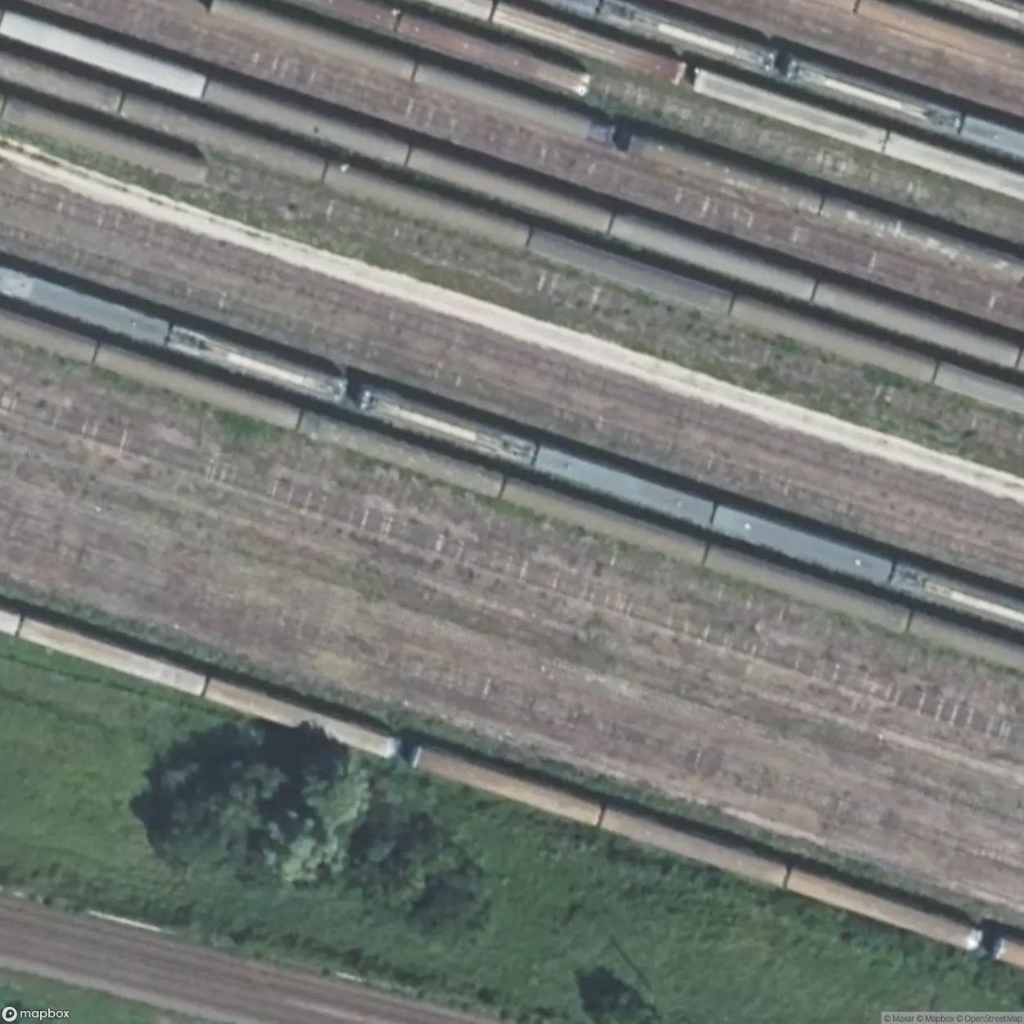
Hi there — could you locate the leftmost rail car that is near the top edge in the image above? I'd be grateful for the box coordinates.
[529,0,600,20]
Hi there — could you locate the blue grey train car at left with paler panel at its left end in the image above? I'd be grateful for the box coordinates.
[0,267,170,348]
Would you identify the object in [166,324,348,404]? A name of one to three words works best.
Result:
rail car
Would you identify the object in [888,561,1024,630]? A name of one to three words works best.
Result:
rail car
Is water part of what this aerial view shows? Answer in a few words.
No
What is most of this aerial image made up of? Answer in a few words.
paved ground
